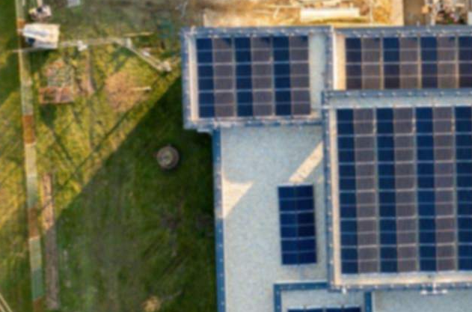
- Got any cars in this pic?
No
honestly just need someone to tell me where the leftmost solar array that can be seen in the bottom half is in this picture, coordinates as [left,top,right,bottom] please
[279,183,317,266]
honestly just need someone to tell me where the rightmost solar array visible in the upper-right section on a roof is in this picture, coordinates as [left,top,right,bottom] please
[346,34,472,91]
